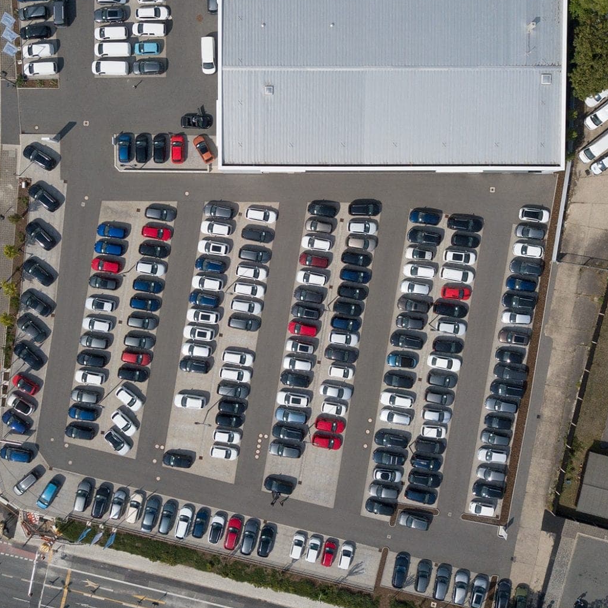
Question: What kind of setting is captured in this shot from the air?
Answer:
parking lot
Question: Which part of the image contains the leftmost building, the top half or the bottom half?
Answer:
top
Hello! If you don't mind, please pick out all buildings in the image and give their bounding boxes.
[572,452,608,519]
[216,0,566,176]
